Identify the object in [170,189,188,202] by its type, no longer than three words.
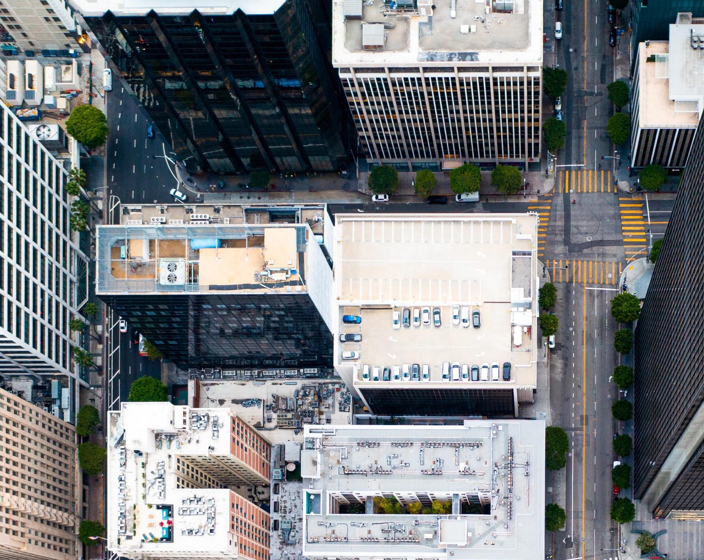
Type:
vehicle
